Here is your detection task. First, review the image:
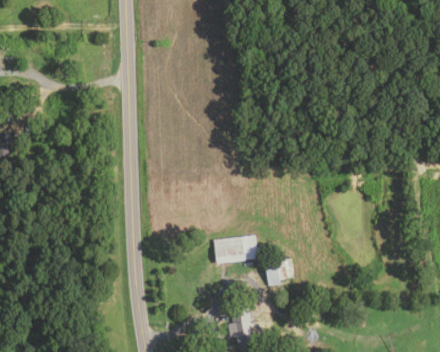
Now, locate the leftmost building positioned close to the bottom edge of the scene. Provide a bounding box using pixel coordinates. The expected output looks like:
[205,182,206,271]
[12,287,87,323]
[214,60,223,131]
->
[228,310,252,339]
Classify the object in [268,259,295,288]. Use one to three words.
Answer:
shed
